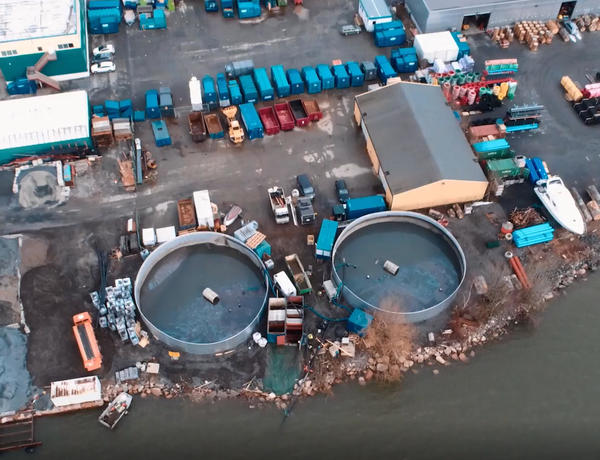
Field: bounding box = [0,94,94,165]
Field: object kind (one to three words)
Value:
building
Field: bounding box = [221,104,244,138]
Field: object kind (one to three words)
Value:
work vehicle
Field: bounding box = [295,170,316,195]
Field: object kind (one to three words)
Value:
vehicle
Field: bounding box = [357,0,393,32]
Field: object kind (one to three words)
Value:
building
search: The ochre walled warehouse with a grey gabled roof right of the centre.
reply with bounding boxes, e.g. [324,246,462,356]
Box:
[358,78,497,209]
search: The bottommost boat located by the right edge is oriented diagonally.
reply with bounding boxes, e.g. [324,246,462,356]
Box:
[532,177,589,237]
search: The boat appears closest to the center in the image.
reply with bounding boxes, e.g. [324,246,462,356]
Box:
[223,202,244,225]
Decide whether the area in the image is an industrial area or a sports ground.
industrial area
